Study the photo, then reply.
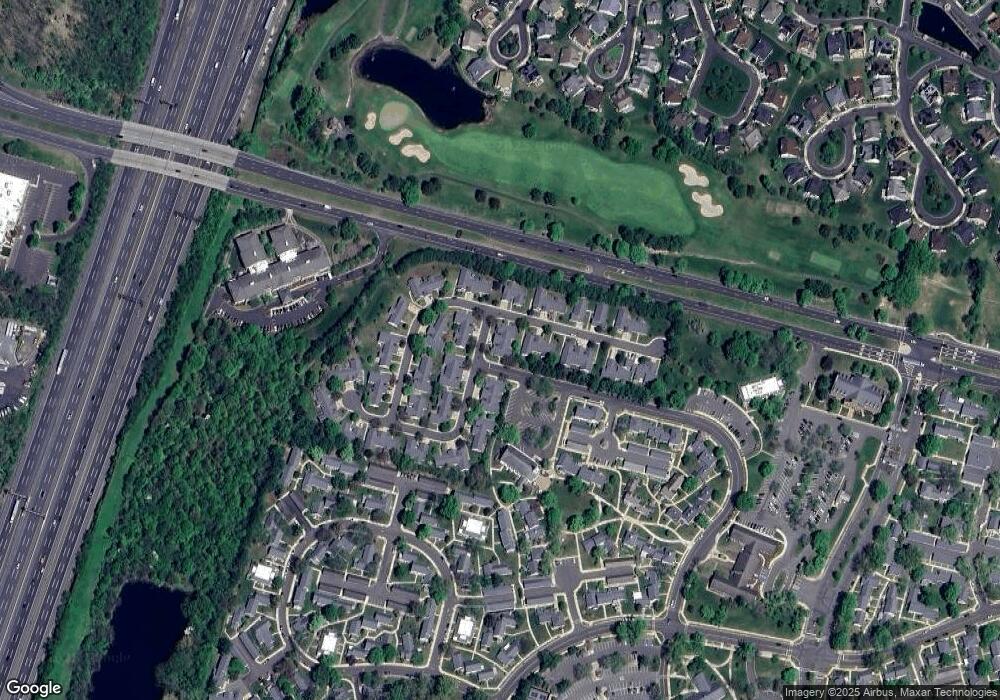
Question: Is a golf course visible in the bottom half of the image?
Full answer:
No, no golf course is visible in the bottom half of the image.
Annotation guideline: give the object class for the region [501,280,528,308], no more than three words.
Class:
house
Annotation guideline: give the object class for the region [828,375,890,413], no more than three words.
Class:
building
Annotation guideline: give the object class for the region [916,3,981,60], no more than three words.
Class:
pond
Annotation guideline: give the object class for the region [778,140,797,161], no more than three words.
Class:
house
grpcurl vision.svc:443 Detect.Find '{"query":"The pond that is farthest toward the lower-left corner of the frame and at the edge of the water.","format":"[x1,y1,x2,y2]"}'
[89,580,187,700]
